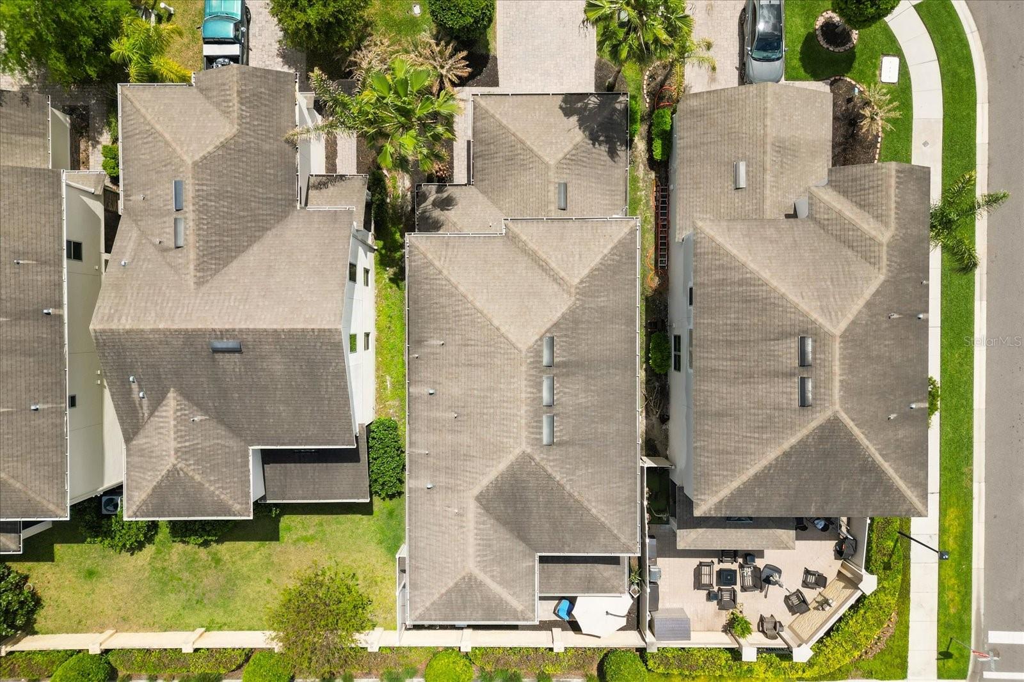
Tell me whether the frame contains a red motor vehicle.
No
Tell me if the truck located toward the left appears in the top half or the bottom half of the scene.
top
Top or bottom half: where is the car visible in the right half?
top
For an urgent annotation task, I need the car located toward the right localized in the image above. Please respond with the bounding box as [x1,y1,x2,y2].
[744,0,791,84]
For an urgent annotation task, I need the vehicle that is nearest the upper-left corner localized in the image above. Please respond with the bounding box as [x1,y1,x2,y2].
[203,0,249,72]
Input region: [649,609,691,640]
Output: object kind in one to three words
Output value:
shed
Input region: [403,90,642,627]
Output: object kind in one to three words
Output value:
house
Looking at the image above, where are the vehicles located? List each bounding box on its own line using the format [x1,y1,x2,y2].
[203,0,249,72]
[744,0,791,84]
